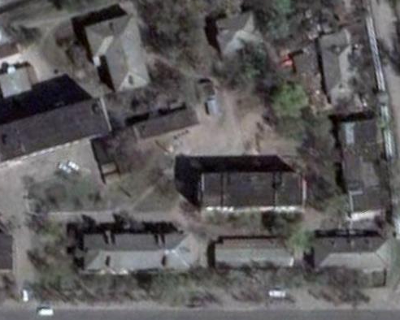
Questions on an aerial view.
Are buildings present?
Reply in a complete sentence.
Yes, there's a building down there.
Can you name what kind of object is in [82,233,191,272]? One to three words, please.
house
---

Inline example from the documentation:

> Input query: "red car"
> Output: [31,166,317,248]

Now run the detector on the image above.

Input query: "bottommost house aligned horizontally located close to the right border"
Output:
[312,234,396,270]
